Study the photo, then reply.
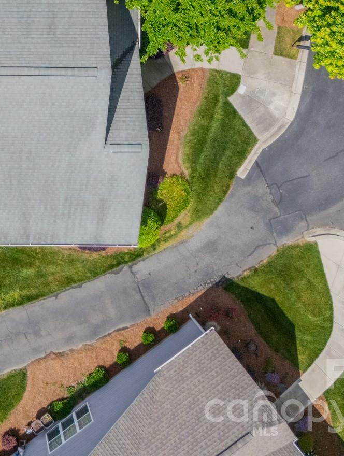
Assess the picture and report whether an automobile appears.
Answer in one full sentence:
No, there isn't any automobile down there.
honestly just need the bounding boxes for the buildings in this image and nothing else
[13,318,307,456]
[0,0,148,249]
